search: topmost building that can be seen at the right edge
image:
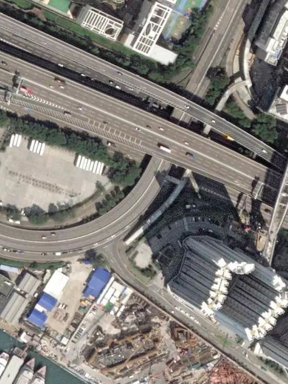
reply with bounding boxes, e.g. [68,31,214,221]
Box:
[250,0,288,64]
